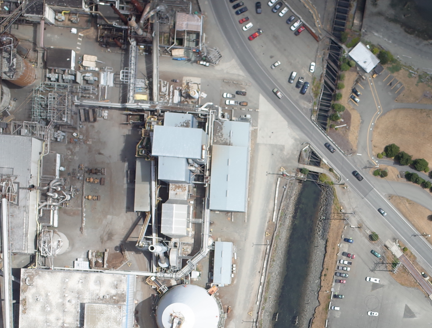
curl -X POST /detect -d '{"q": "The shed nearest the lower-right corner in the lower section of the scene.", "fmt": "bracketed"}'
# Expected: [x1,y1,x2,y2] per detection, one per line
[214,242,235,284]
